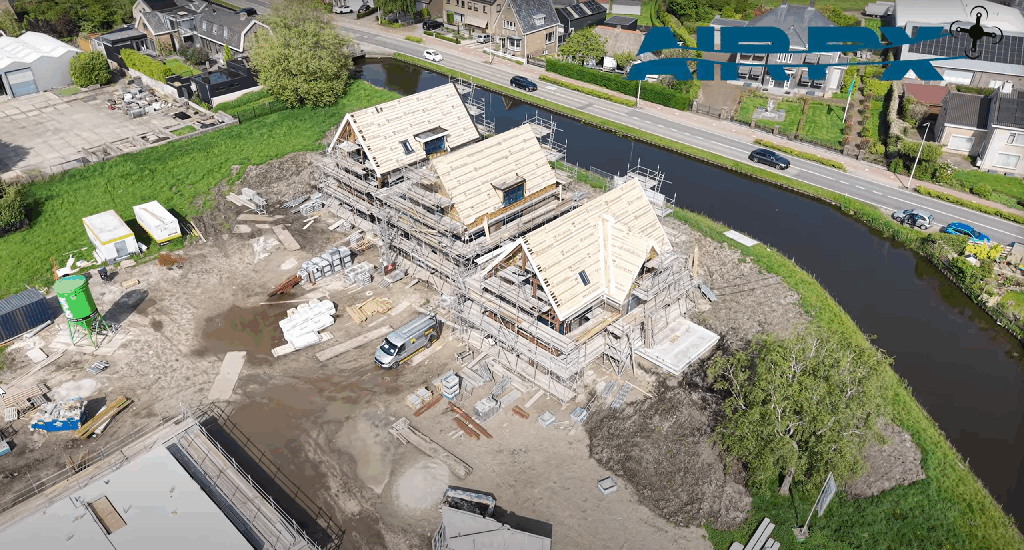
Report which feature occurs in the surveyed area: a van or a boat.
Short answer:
van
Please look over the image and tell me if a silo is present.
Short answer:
Yes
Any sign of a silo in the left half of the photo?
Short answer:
Yes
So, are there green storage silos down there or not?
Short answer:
Yes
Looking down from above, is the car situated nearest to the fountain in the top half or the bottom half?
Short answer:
top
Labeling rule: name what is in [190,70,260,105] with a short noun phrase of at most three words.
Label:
building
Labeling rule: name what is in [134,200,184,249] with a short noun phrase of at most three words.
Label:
building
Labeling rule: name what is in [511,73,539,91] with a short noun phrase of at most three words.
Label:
car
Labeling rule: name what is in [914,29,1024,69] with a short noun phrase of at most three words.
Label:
solar array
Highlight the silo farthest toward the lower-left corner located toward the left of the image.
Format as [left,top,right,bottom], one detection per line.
[58,280,123,346]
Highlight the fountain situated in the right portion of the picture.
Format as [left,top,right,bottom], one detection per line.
[755,101,786,120]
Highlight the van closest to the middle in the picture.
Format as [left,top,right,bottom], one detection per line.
[367,310,440,374]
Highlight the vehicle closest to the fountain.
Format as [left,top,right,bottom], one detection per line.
[749,145,794,170]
